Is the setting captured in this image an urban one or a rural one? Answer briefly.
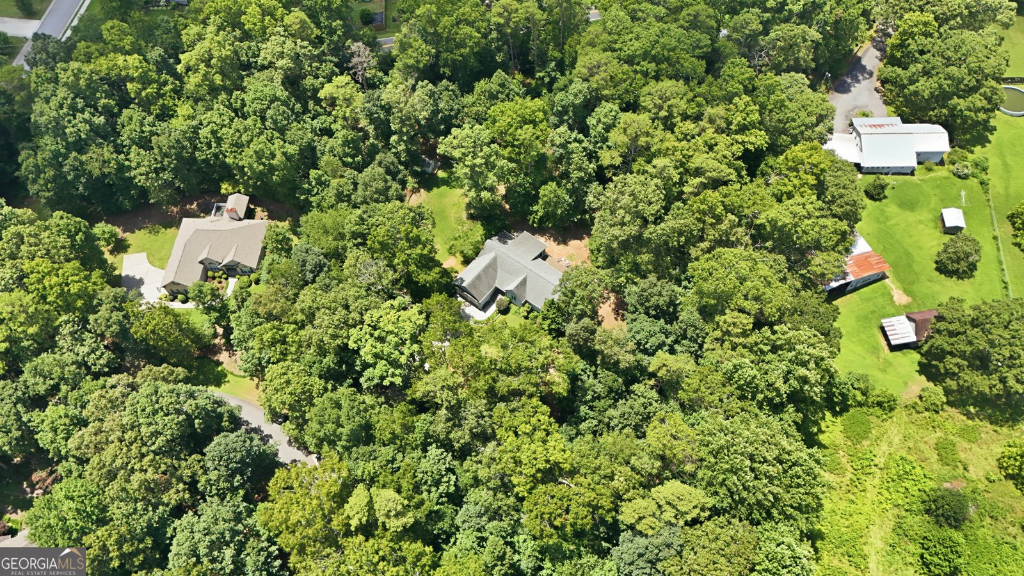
rural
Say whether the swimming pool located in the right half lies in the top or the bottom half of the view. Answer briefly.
top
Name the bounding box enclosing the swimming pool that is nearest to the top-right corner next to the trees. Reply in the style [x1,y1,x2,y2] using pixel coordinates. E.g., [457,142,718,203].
[994,85,1024,119]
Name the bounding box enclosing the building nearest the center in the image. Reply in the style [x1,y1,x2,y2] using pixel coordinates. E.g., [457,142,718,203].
[452,230,571,315]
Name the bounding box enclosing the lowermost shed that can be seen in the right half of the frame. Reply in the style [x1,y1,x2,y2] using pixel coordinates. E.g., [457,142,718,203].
[876,308,949,351]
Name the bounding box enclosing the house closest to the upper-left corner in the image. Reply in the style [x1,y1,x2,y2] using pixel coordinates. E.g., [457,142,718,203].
[161,192,269,294]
